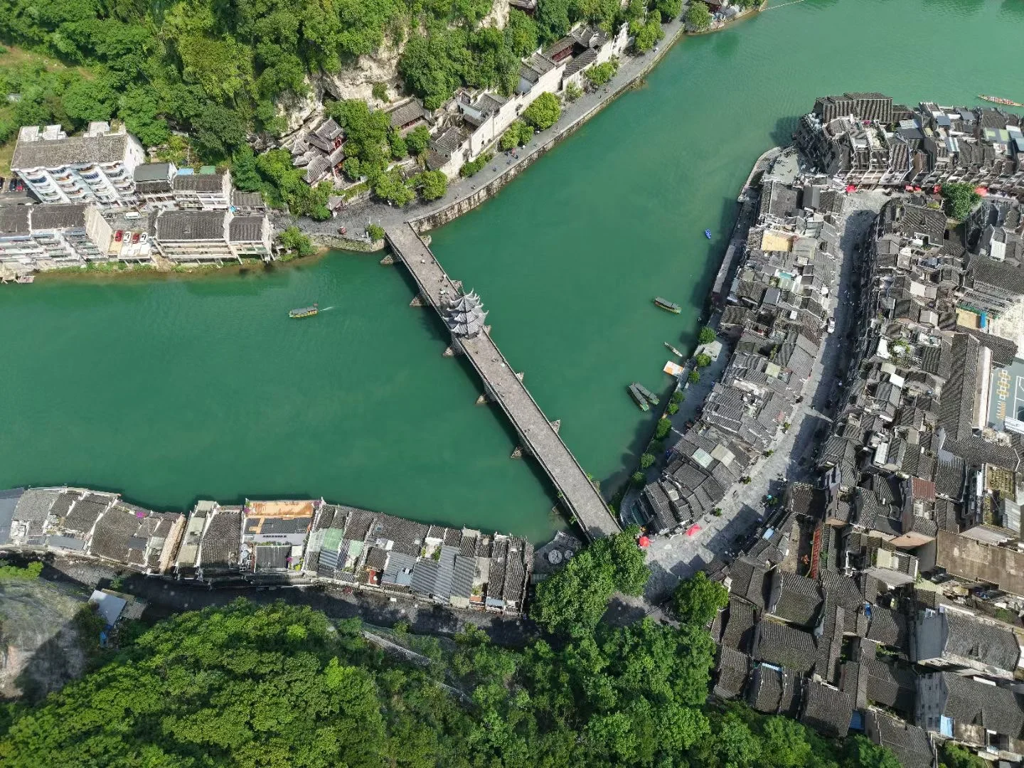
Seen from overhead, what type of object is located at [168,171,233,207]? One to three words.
house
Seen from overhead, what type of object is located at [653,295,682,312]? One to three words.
boat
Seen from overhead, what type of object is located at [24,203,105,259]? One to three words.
building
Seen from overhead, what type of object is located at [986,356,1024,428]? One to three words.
sports court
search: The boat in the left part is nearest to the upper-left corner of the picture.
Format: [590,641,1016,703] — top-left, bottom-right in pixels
[287,303,318,316]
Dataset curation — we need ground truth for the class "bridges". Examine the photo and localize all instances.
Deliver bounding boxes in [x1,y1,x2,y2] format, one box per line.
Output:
[382,219,615,541]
